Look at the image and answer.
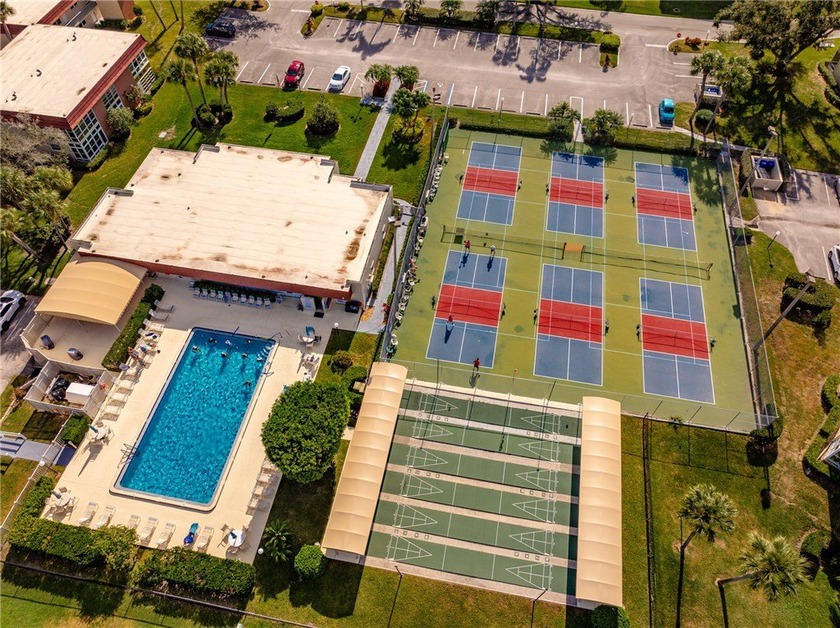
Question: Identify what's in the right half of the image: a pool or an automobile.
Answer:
automobile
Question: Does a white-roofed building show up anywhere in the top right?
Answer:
No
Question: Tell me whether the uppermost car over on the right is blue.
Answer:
Yes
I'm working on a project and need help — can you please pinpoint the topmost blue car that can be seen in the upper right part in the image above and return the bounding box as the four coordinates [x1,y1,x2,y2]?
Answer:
[657,102,677,125]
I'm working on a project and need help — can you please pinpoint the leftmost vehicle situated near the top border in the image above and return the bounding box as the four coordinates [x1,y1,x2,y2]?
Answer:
[203,20,237,39]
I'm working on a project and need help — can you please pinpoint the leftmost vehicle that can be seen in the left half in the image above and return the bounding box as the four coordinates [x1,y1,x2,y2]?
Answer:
[0,284,29,325]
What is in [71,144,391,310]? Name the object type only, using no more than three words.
building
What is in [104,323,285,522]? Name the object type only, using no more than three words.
swimming pool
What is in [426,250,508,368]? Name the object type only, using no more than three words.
sports court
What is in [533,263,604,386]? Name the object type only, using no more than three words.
sports court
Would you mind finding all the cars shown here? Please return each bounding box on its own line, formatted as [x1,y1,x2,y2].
[825,245,840,279]
[330,69,351,93]
[657,102,677,125]
[283,65,305,88]
[0,284,29,325]
[203,20,237,39]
